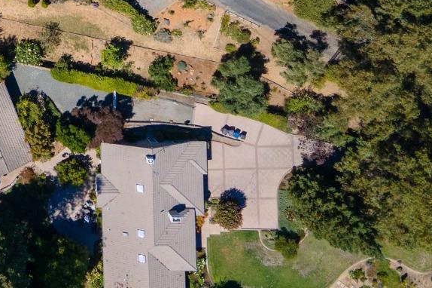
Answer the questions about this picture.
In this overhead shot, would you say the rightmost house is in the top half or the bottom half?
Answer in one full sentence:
It is in the bottom half that the rightmost house appears.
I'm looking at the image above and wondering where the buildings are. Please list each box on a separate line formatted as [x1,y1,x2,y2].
[94,133,209,288]
[0,82,32,176]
